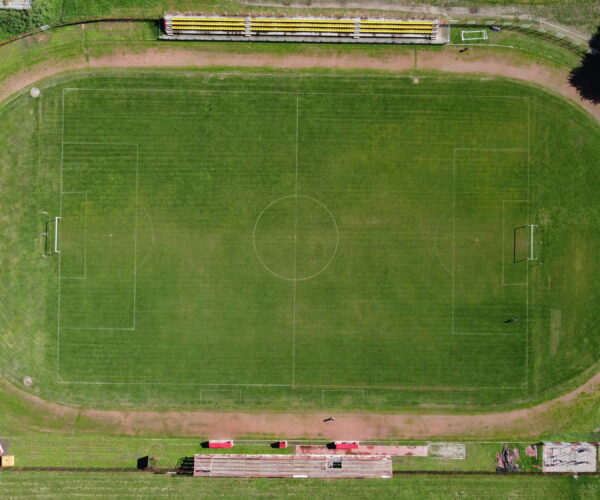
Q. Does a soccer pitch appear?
Yes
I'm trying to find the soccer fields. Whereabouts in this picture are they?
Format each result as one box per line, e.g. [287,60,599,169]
[43,79,550,405]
